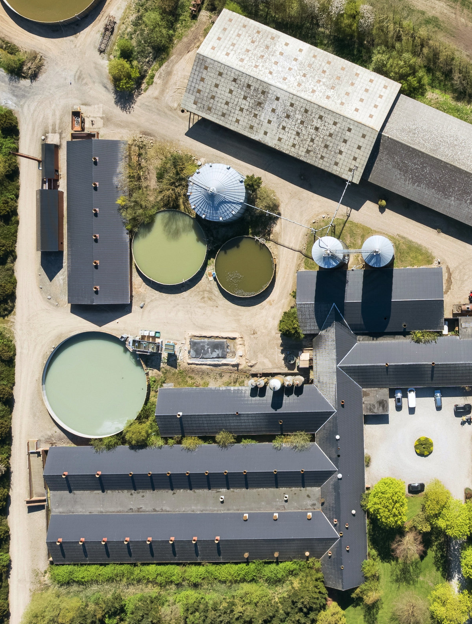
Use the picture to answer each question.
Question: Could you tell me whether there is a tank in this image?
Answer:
Yes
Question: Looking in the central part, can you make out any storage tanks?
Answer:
Yes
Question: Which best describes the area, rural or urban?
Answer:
urban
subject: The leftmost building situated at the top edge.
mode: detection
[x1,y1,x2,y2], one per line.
[182,8,401,183]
